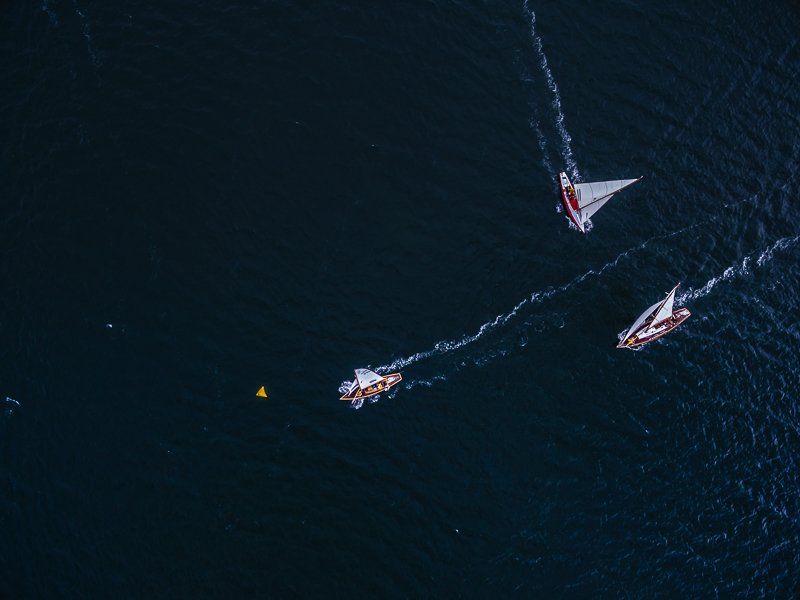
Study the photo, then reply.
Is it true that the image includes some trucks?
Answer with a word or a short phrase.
No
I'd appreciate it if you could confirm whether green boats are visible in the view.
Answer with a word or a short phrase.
No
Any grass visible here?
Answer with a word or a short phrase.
No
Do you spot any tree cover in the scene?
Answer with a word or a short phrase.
No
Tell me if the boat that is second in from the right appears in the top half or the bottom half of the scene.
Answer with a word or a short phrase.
top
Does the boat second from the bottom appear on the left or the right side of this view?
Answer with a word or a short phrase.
right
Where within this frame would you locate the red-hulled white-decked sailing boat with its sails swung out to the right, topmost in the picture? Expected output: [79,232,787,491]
[559,172,643,233]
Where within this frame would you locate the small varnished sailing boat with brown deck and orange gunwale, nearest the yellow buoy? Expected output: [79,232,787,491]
[340,369,403,404]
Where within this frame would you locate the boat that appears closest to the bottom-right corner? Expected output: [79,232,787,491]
[616,282,691,348]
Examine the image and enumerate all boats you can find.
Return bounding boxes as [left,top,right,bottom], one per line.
[616,282,691,348]
[559,172,643,233]
[340,369,403,404]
